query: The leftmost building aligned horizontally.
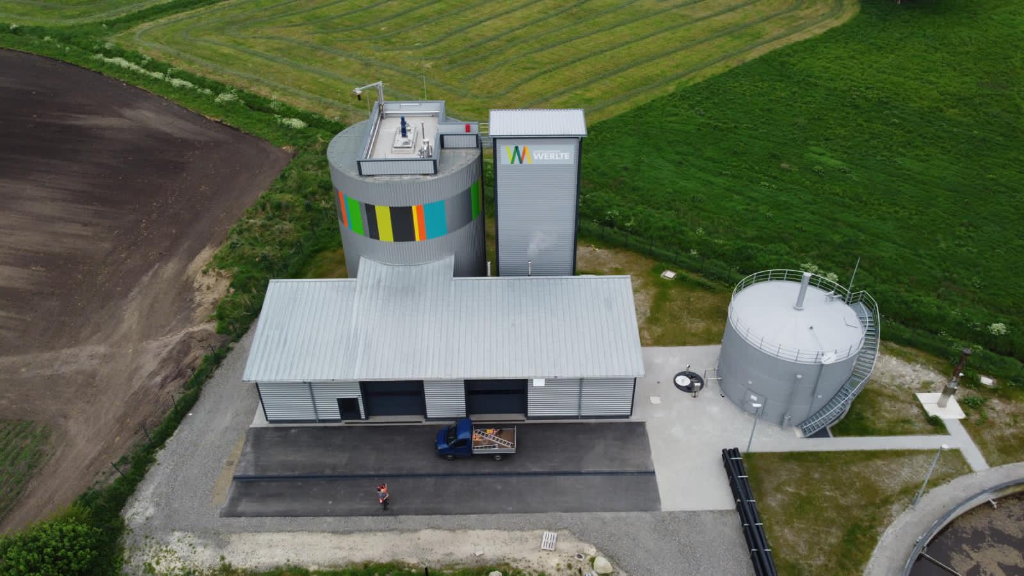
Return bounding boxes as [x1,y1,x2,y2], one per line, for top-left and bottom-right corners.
[242,252,646,426]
